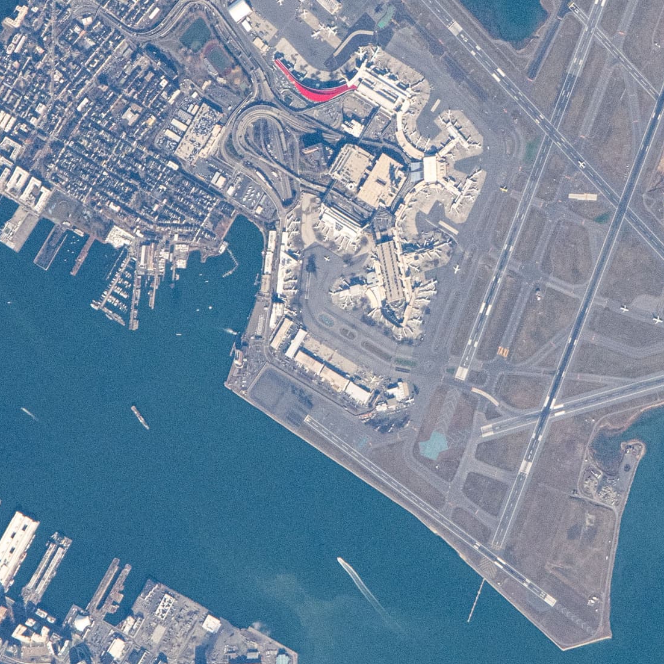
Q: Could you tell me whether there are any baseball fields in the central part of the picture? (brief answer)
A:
No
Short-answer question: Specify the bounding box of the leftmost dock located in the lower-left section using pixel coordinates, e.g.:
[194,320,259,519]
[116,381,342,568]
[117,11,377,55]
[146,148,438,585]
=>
[21,533,71,602]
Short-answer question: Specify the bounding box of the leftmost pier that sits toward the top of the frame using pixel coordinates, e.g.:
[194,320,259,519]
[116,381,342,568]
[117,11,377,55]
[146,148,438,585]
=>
[0,204,40,253]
